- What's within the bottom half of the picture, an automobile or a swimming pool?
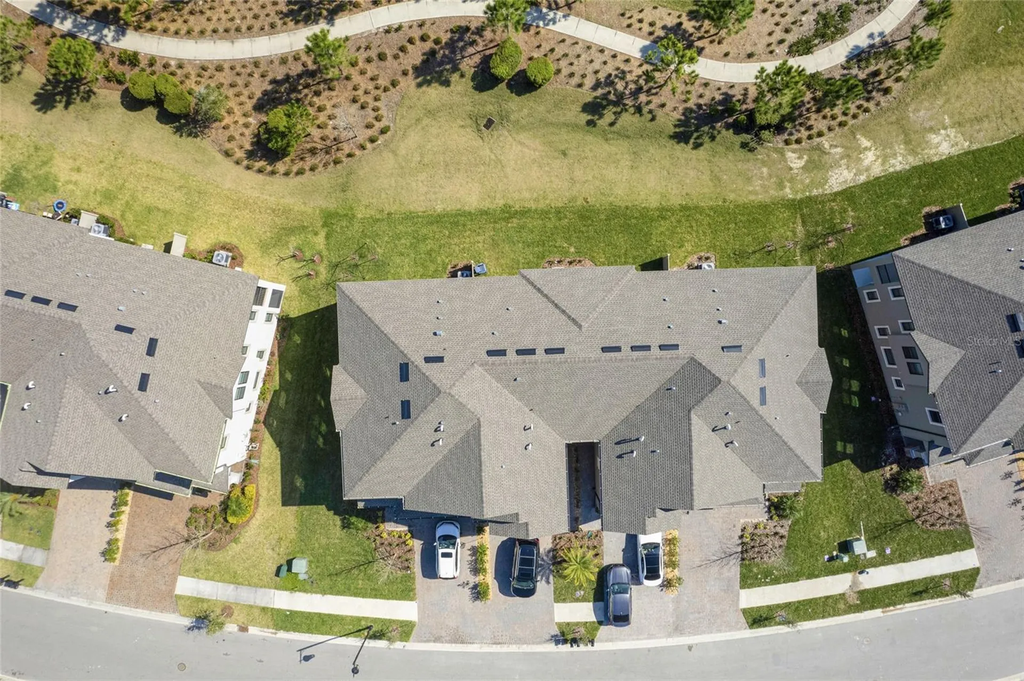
automobile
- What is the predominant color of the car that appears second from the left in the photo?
black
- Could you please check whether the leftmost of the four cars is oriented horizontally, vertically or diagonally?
vertically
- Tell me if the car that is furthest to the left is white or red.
white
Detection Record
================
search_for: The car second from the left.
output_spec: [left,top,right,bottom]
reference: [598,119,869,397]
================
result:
[510,538,539,596]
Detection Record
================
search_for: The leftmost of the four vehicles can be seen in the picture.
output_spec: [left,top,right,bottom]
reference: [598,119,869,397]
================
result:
[434,520,462,579]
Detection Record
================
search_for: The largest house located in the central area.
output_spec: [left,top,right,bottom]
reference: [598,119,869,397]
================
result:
[330,265,832,540]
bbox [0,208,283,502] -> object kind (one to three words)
house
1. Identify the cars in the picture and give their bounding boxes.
[434,520,462,579]
[510,538,539,596]
[604,562,634,627]
[635,533,664,587]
